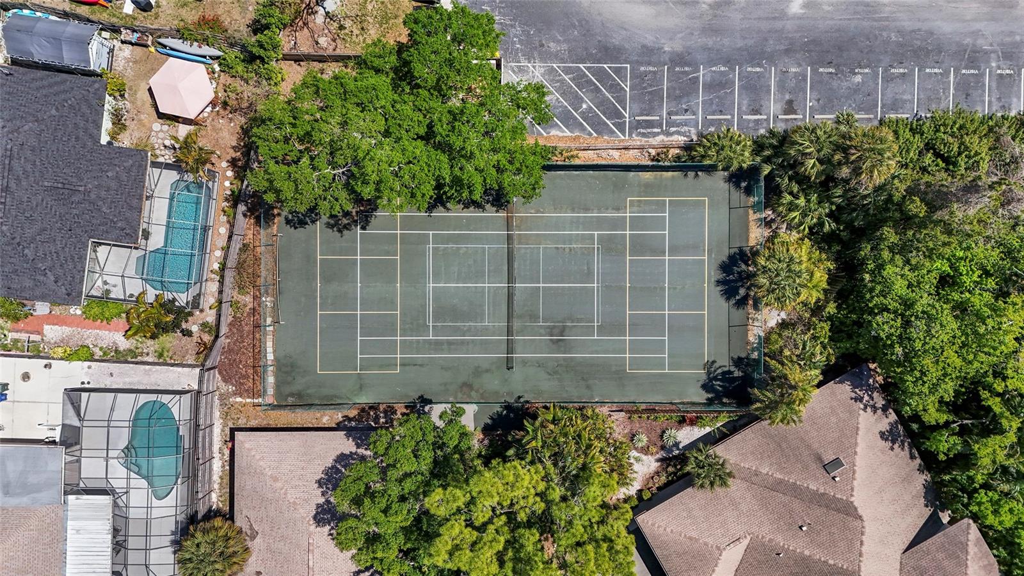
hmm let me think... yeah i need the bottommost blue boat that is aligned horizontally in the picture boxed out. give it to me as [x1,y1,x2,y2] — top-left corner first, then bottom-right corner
[156,48,211,62]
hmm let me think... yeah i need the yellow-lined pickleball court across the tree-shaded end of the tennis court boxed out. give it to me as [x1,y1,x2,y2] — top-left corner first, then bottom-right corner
[318,199,399,373]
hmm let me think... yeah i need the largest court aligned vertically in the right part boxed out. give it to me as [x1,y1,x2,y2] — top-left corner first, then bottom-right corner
[628,198,707,372]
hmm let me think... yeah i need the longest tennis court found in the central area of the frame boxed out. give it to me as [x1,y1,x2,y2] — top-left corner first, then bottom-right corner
[275,171,748,404]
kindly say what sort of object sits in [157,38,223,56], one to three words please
boat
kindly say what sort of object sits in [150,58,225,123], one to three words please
gazebo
